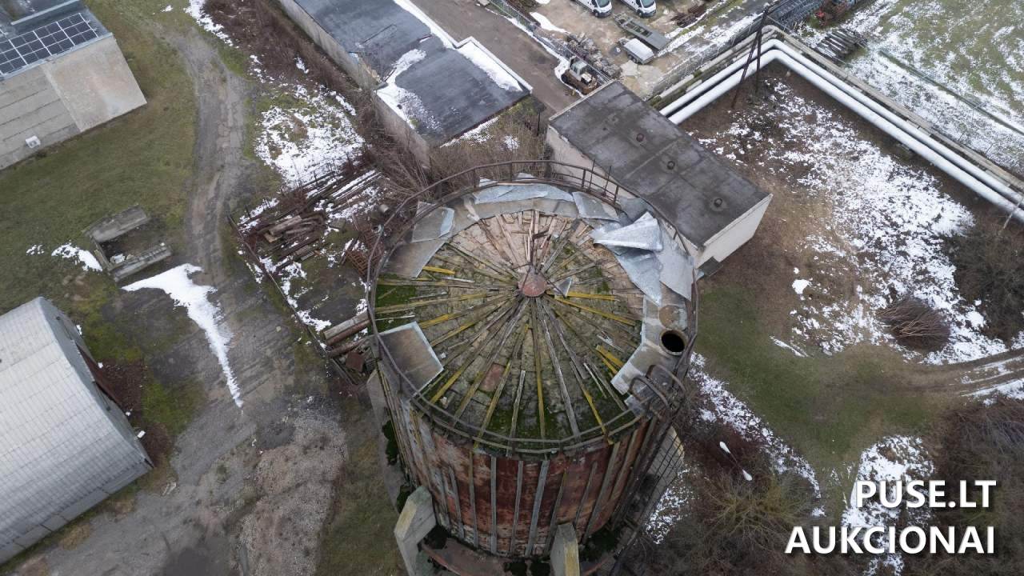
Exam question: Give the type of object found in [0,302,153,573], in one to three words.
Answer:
hangar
